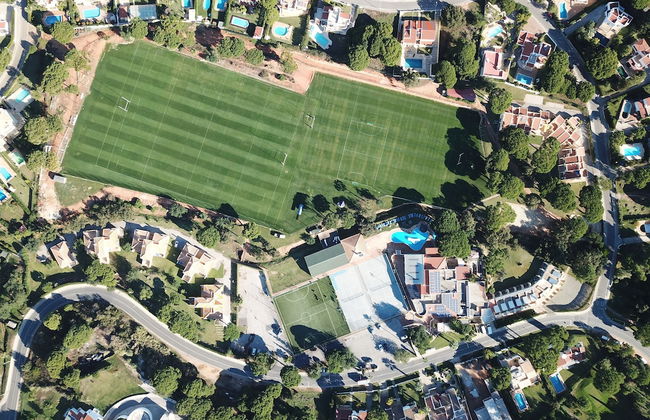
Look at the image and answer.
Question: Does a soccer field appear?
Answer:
Yes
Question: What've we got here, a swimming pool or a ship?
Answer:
swimming pool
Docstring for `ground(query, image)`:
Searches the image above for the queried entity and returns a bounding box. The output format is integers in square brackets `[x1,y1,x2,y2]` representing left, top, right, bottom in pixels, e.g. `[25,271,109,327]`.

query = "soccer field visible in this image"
[62,39,305,227]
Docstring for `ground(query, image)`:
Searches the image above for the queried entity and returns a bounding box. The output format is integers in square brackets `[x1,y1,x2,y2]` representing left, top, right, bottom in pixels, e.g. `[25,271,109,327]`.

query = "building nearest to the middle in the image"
[303,233,369,275]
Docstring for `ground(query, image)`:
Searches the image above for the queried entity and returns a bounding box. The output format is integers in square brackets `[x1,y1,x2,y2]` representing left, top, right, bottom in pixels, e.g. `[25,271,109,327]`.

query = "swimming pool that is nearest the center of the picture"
[390,227,430,252]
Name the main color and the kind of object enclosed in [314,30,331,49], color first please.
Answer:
blue swimming pool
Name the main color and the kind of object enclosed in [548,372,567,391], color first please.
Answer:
blue swimming pool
